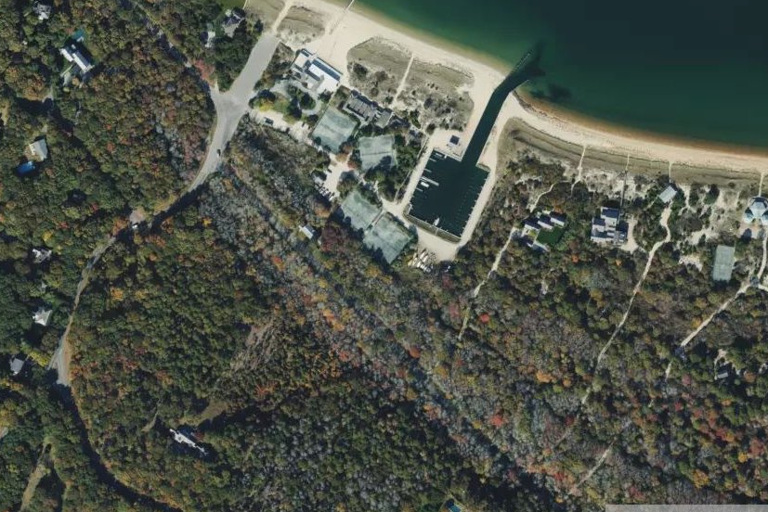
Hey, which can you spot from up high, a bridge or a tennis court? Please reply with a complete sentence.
Of the two, only a tennis court appears.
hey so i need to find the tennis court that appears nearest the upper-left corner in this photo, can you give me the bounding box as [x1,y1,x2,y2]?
[312,108,356,151]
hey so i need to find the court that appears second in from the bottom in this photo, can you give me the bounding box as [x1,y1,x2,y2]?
[364,216,411,263]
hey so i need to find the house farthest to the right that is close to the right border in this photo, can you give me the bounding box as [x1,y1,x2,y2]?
[742,198,768,224]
